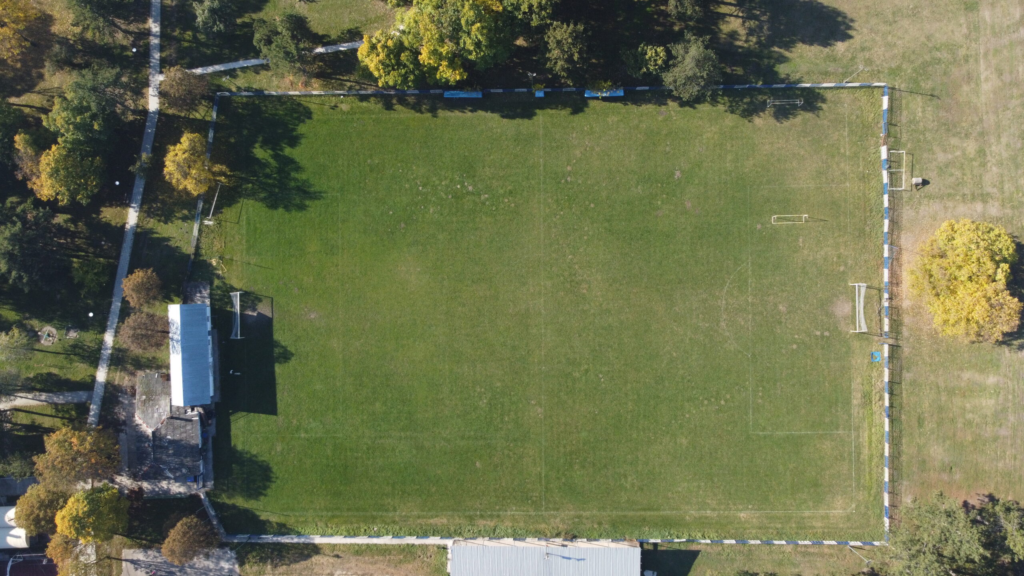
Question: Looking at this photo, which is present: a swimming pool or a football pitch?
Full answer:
I can see a football pitch in this picture.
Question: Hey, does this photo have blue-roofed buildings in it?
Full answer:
Yes, a blue-roofed building appears in the view.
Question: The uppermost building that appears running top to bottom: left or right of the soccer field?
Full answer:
In the image, the uppermost building that appears running top to bottom sits on the left side of the soccer field.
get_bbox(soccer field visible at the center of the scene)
[244,106,860,517]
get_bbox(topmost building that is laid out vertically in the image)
[170,304,216,407]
